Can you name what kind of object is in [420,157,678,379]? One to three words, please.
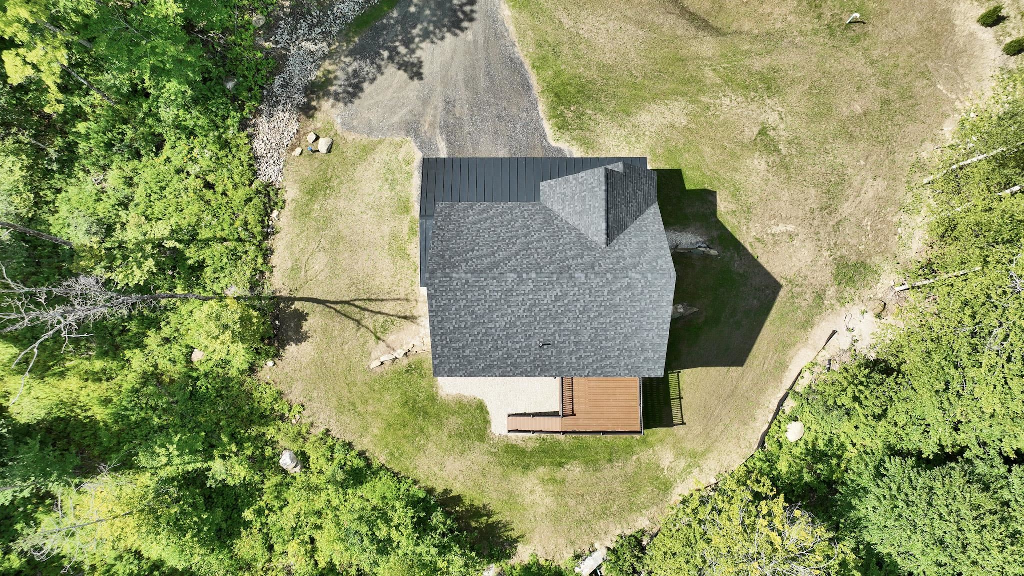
house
